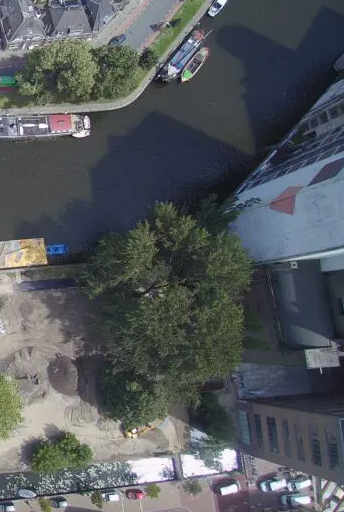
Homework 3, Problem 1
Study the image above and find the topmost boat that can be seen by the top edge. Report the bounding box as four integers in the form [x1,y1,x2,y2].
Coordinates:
[191,0,225,31]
